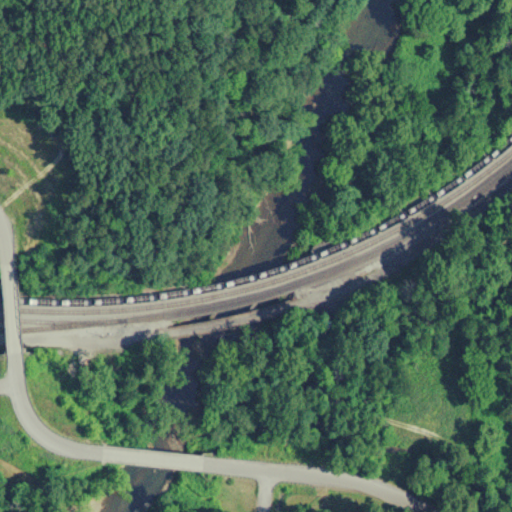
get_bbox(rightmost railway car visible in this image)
[489,136,512,160]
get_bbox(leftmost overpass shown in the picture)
[1,268,26,358]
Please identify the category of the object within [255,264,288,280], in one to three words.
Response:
rail car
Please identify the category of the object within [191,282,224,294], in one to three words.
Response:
rail car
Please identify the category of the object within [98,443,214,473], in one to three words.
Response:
bridge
